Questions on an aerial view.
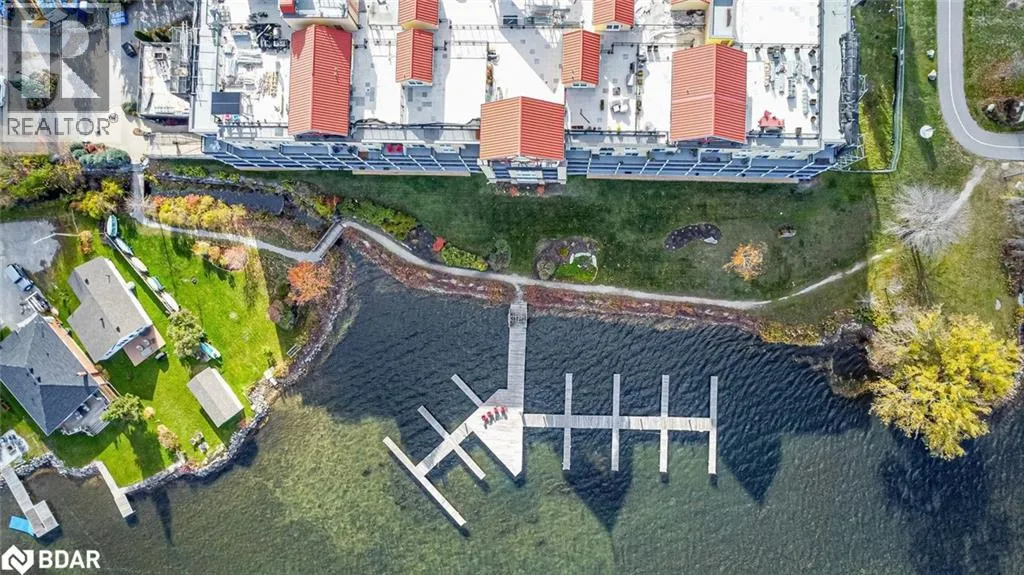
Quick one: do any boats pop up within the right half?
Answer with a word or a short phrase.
No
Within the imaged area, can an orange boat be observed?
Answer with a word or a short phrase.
No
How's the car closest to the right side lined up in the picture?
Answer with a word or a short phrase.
on a diagonal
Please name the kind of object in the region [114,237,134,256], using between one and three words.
boat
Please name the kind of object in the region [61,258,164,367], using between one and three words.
house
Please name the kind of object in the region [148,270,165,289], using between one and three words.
boat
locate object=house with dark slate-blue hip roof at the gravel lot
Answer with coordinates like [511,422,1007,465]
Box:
[0,313,120,440]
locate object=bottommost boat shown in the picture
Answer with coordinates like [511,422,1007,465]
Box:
[199,342,218,360]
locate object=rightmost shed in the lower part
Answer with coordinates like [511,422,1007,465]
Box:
[188,367,246,428]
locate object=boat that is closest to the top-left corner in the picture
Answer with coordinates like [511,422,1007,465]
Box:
[104,215,116,239]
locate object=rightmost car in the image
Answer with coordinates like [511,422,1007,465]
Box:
[114,32,139,62]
